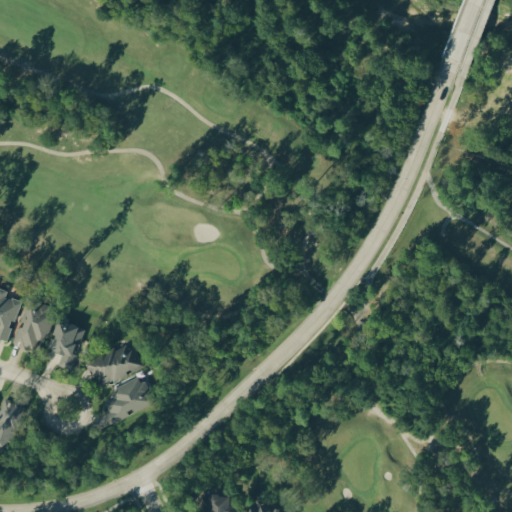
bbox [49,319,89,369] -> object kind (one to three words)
house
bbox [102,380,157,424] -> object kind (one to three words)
house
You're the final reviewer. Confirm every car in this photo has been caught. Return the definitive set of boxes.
[440,86,449,100]
[10,344,20,358]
